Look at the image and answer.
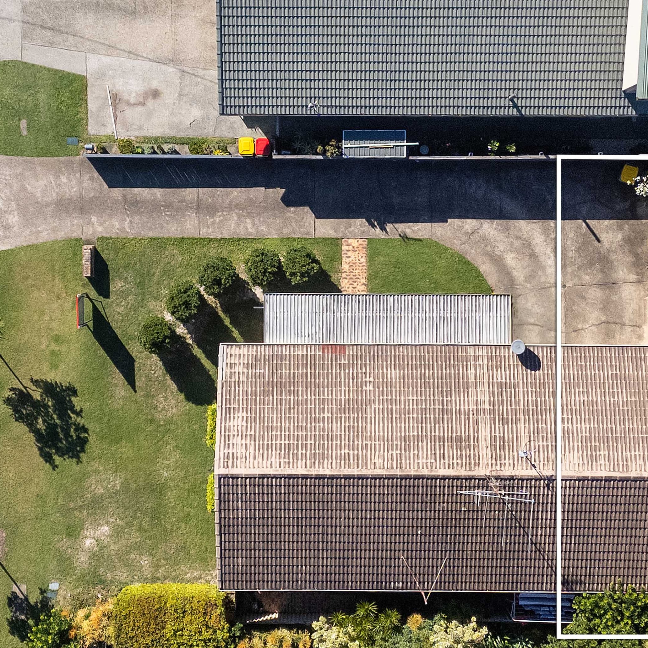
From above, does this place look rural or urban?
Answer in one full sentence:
The area is urban.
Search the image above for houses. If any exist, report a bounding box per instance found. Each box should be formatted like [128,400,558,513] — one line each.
[213,0,648,120]
[212,342,648,597]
